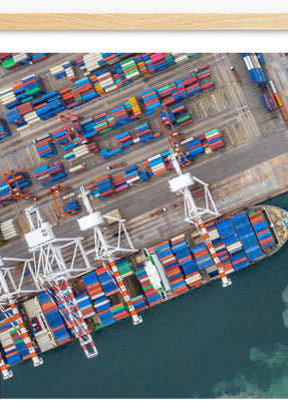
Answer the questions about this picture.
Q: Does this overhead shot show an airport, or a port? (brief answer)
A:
port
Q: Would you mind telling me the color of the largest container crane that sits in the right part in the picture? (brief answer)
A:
white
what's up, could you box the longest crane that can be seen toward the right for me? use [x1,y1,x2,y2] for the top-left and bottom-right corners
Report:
[164,148,231,285]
